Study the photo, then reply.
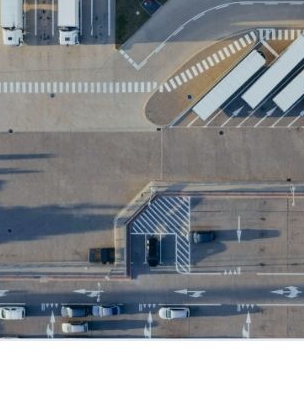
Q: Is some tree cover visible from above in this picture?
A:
No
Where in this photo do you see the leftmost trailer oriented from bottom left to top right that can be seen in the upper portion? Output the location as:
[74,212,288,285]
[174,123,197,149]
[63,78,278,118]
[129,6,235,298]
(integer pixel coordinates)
[192,51,266,121]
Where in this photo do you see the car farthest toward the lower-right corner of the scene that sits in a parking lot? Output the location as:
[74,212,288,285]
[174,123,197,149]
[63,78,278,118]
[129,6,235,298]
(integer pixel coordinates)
[160,306,188,320]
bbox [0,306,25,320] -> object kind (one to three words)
car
